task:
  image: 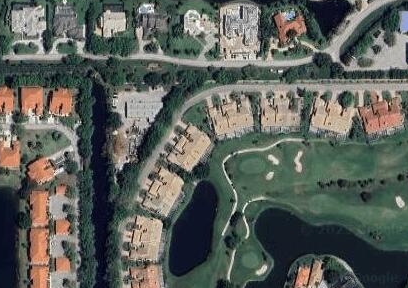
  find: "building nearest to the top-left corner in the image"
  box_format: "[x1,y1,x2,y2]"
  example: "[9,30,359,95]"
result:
[10,7,43,38]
